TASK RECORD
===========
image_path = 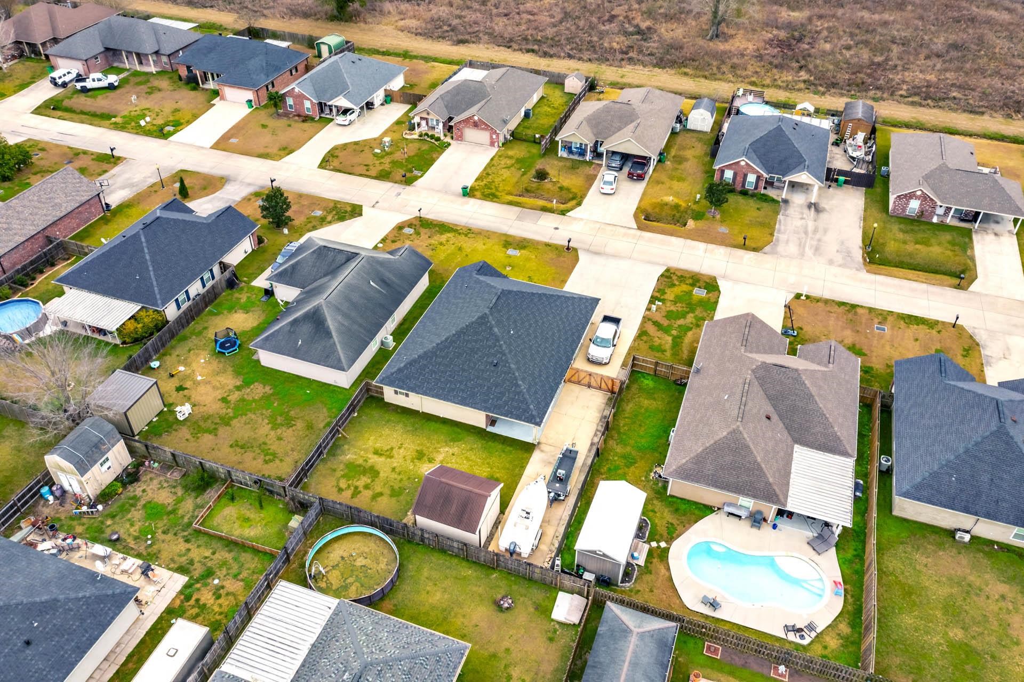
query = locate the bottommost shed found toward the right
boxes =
[583,601,681,682]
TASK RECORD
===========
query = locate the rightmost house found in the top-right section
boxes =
[886,131,1024,239]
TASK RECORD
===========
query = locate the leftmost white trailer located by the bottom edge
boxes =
[132,618,222,682]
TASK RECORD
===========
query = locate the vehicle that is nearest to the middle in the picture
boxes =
[587,306,625,364]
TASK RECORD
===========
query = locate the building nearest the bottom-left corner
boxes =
[0,538,140,682]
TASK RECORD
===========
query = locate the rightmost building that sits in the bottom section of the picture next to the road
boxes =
[887,354,1024,553]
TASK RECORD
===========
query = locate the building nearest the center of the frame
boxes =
[373,260,600,444]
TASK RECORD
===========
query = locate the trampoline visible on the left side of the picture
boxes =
[208,324,240,355]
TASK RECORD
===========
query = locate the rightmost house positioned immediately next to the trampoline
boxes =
[250,236,438,392]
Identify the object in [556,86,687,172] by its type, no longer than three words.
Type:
house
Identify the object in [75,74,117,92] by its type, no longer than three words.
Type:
vehicle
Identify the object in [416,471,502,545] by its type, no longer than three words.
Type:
shed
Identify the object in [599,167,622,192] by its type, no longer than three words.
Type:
car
